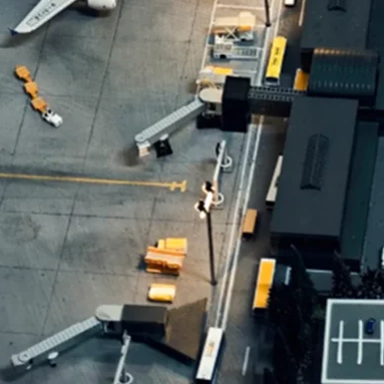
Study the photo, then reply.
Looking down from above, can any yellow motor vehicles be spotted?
Yes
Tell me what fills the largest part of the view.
paved ground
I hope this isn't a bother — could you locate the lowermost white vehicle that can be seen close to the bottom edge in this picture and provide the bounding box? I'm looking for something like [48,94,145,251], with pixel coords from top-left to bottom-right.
[197,329,225,384]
